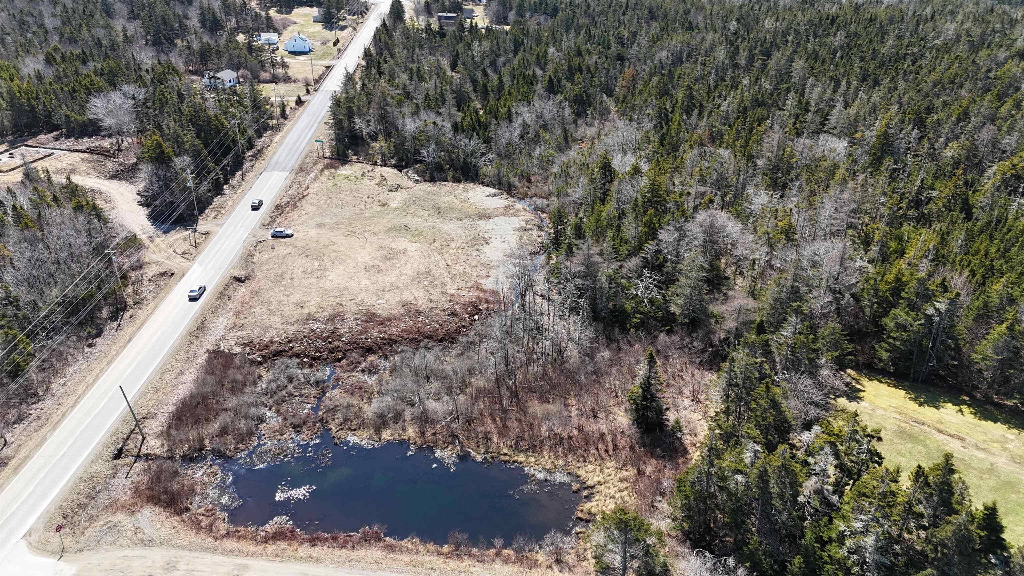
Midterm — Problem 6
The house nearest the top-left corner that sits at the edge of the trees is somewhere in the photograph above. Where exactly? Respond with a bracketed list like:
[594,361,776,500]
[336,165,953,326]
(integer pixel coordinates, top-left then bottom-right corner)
[207,68,244,87]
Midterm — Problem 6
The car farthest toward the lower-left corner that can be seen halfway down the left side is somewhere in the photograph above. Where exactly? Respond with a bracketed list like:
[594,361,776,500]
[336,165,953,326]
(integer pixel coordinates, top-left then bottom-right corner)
[187,286,206,301]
